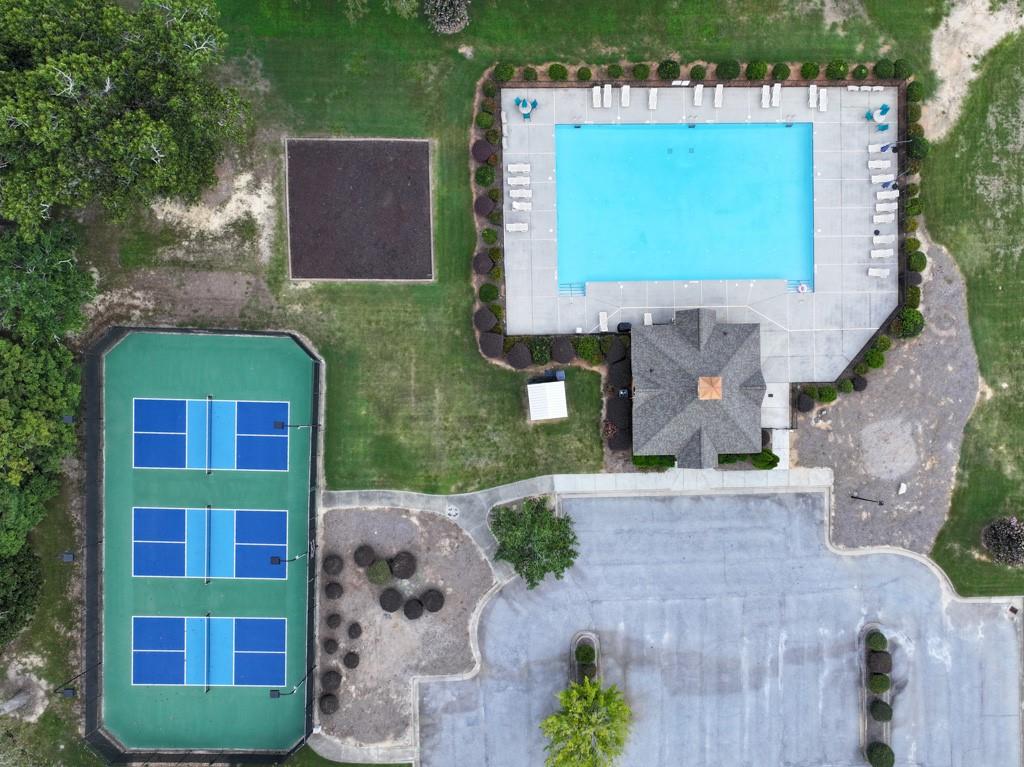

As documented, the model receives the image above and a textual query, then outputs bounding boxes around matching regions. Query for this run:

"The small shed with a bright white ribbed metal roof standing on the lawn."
[527,380,568,420]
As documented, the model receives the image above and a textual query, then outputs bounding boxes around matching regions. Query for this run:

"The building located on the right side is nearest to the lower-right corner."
[631,307,768,469]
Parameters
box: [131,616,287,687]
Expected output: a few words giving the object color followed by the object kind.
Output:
blue sports court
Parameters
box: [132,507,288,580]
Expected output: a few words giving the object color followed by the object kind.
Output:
blue sports court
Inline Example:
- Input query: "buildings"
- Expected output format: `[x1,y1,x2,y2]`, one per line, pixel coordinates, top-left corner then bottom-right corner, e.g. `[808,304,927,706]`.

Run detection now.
[631,307,768,469]
[527,380,568,420]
